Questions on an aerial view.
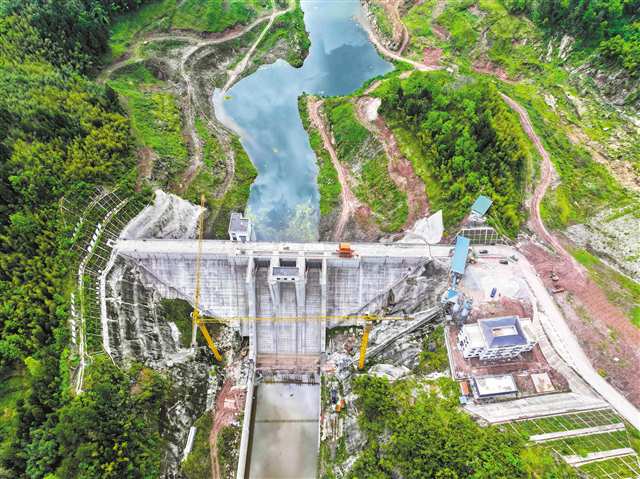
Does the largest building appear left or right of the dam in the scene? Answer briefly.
right of it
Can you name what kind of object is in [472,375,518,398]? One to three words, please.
building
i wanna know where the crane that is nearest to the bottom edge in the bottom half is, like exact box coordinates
[206,311,411,373]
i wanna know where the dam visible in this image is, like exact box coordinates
[107,239,452,479]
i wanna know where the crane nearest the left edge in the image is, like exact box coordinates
[193,194,227,366]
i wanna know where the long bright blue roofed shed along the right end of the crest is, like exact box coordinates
[450,235,468,281]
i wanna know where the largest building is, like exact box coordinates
[460,316,536,356]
